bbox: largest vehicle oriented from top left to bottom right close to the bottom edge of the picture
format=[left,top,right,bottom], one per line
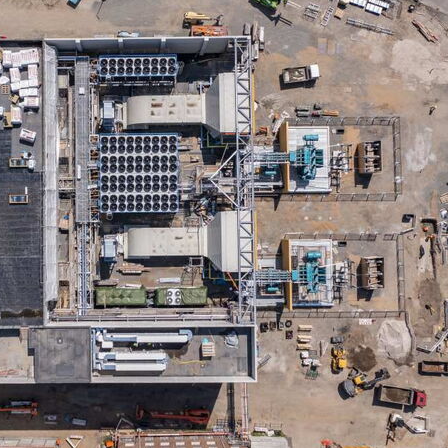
[385,408,421,435]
